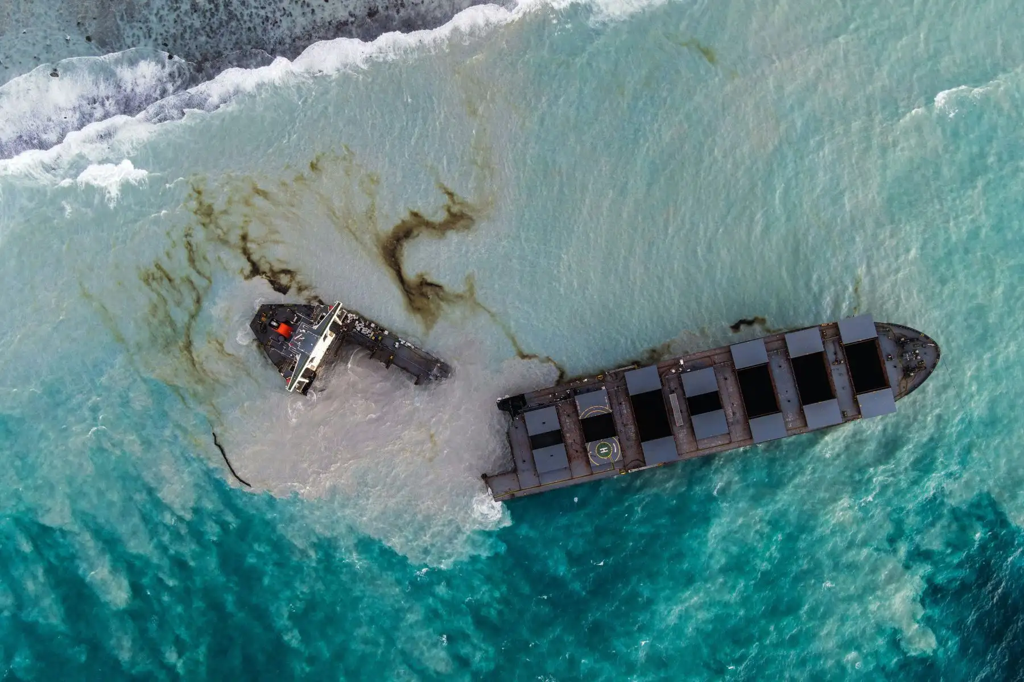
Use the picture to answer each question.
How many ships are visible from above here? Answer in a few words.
2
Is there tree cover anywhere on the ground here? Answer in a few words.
No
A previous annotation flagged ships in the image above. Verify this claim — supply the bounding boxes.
[250,301,450,396]
[480,313,940,502]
